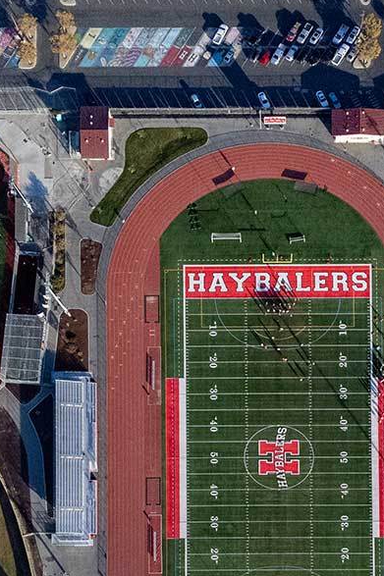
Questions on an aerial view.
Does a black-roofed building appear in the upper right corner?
No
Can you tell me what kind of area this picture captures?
sports ground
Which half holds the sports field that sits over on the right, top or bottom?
bottom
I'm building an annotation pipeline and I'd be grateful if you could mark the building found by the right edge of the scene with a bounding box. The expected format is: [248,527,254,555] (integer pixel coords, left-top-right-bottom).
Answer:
[332,106,384,141]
